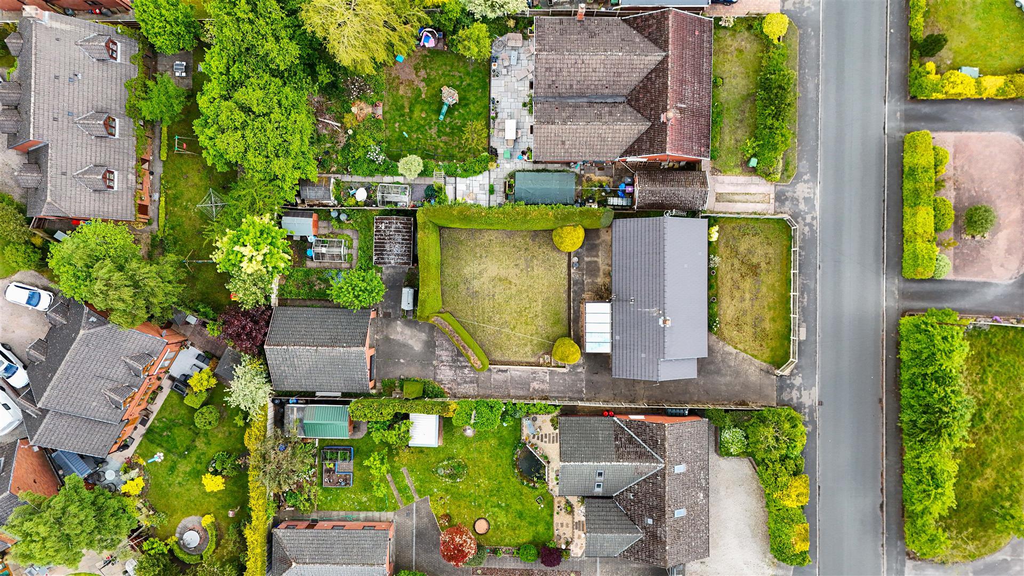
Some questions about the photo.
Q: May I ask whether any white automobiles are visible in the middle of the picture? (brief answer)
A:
No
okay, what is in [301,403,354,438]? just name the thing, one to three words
shed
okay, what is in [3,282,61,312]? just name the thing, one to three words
car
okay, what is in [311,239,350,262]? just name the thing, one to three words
greenhouse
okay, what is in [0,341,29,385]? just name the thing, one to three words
car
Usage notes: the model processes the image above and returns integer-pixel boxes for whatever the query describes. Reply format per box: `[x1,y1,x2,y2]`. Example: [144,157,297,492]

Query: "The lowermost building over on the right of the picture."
[558,414,709,576]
